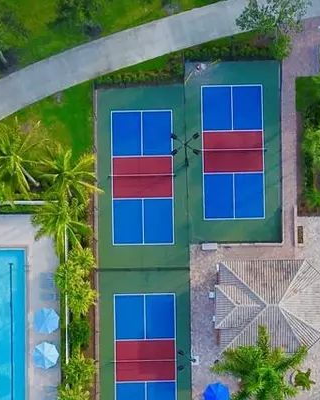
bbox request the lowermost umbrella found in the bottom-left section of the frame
[34,343,59,367]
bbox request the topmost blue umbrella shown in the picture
[34,307,59,333]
